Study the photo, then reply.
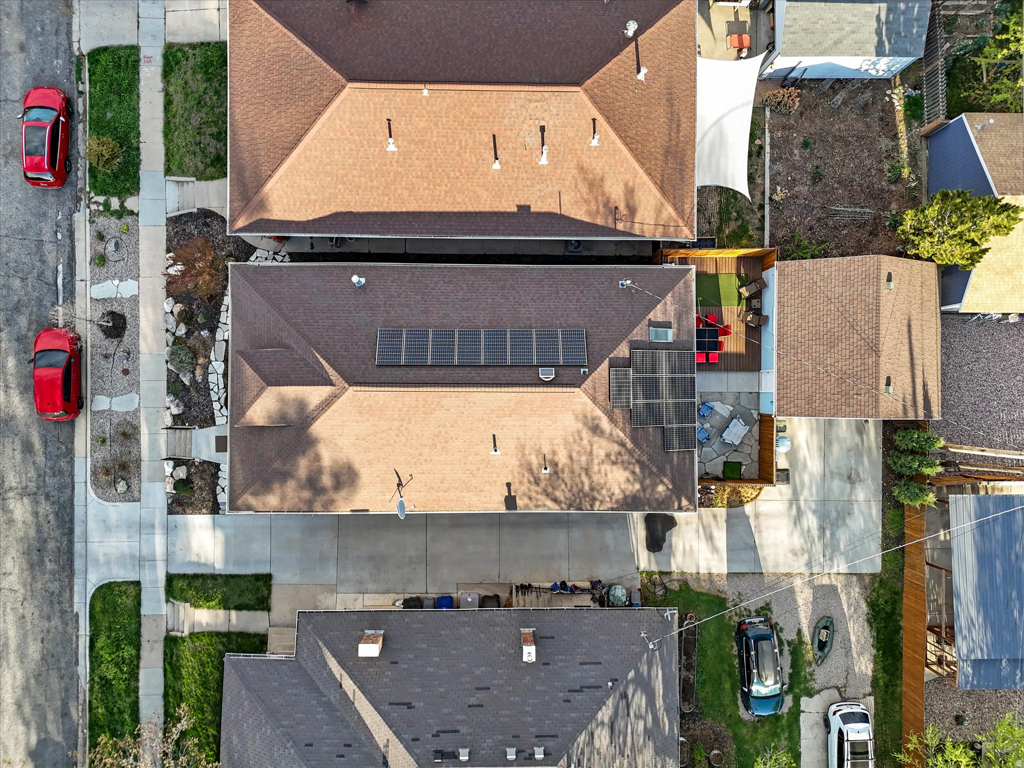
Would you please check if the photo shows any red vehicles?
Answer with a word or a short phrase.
Yes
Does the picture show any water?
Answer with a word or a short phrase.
No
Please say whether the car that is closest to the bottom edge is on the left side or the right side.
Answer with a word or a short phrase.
right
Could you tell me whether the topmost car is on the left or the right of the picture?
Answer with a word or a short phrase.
left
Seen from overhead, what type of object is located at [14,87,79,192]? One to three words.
car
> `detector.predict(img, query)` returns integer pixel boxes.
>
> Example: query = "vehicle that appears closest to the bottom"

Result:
[819,694,883,768]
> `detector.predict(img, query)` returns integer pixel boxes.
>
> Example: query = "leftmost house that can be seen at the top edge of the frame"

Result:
[228,0,696,239]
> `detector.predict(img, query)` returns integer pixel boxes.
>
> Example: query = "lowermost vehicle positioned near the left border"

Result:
[26,327,86,422]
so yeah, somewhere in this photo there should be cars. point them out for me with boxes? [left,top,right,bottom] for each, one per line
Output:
[14,87,79,192]
[819,694,883,768]
[731,609,793,720]
[26,327,86,422]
